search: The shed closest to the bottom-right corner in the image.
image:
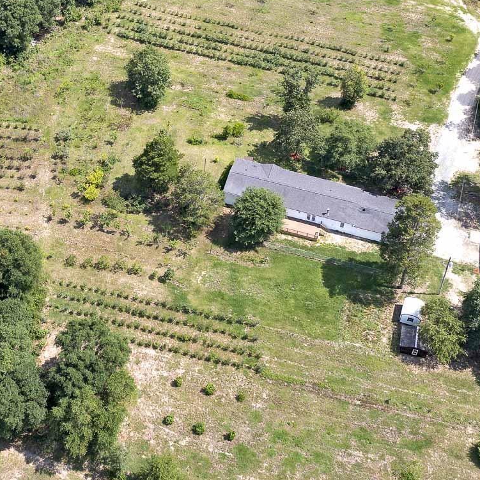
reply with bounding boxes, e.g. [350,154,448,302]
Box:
[399,325,428,357]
